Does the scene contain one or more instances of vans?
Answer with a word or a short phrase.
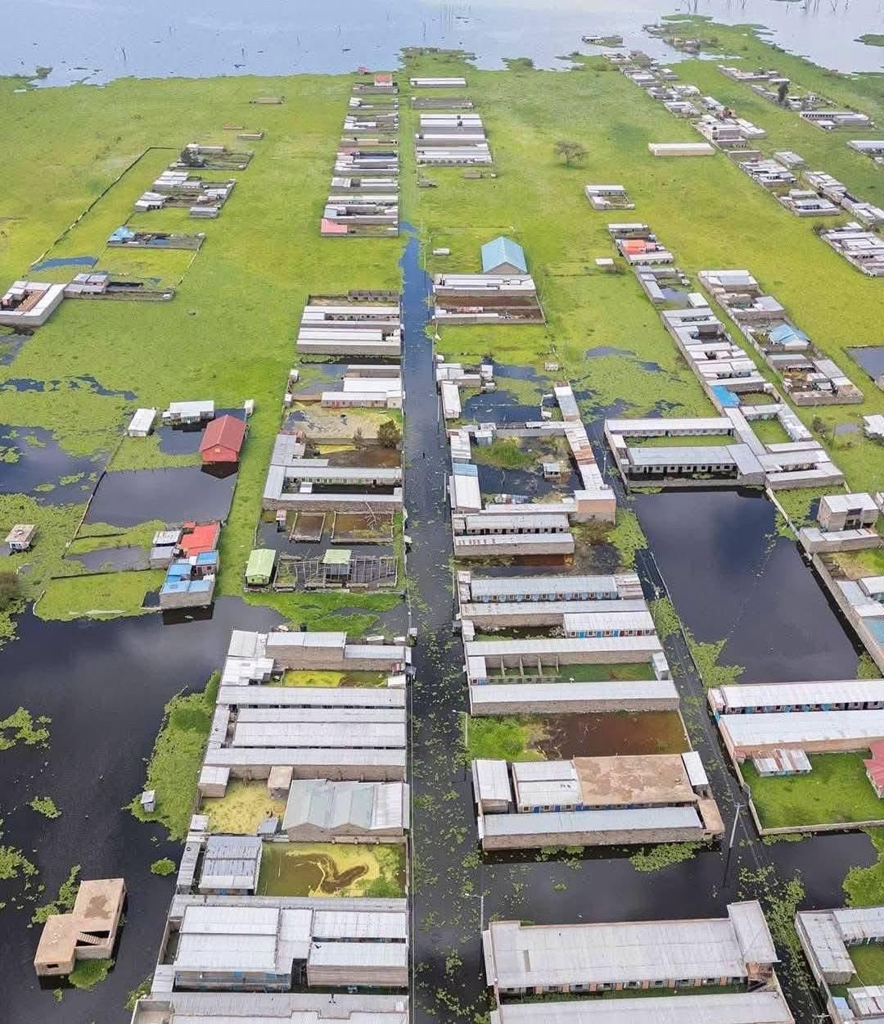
No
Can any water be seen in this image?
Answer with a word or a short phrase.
Yes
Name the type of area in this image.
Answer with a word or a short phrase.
residential area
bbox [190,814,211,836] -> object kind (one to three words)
shed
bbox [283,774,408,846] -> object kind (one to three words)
building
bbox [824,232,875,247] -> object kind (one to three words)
house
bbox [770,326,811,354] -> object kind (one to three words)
house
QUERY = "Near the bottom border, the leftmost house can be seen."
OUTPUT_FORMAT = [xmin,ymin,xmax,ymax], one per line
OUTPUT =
[34,879,127,980]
